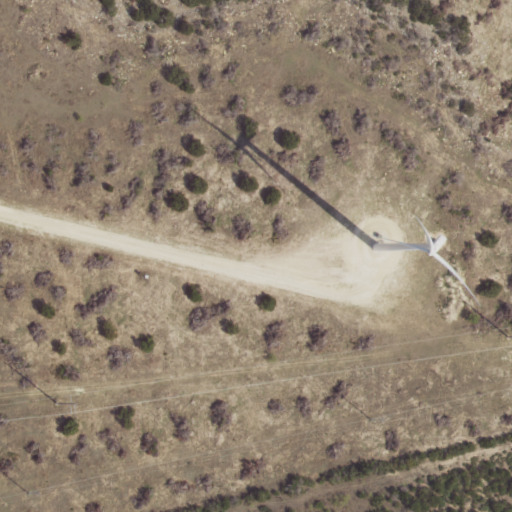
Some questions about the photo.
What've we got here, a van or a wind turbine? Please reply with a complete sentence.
Of the two, only a wind turbine appears.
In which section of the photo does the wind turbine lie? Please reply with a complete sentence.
Look in the right portion of the view to spot the wind turbine.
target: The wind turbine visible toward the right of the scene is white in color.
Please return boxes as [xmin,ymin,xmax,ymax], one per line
[374,216,478,304]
